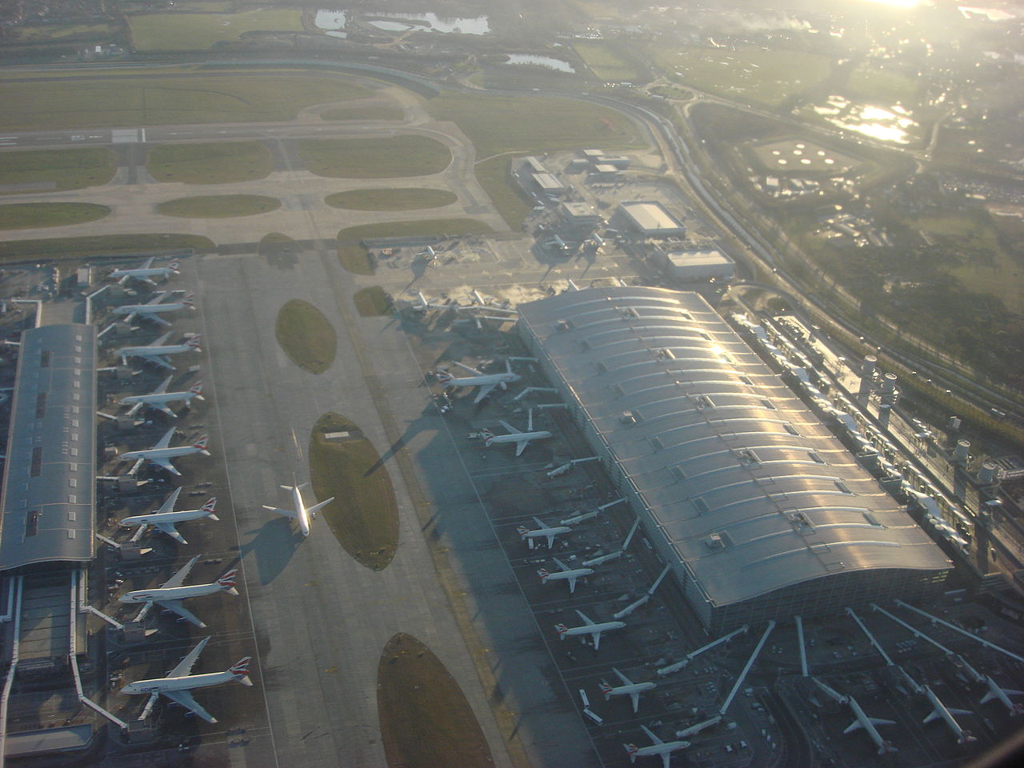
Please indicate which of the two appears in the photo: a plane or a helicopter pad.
plane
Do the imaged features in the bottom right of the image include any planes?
Yes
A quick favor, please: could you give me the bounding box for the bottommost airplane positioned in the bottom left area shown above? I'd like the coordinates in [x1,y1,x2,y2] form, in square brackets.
[121,634,251,718]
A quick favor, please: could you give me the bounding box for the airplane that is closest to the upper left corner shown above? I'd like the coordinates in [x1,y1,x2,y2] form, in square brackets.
[111,260,173,283]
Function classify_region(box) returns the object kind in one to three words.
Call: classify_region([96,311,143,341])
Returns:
jet bridge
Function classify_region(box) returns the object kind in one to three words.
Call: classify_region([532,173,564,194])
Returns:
building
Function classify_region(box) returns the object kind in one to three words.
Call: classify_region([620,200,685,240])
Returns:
hangar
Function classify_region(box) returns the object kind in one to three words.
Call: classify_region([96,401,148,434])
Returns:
jet bridge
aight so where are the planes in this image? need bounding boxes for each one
[116,329,198,366]
[121,634,251,718]
[545,230,576,252]
[540,559,593,593]
[118,426,211,474]
[121,486,222,542]
[444,361,520,400]
[114,290,191,323]
[120,552,239,621]
[481,421,552,456]
[406,292,442,311]
[560,279,586,292]
[519,518,570,549]
[111,260,173,283]
[555,612,624,651]
[843,699,899,757]
[623,728,689,768]
[262,477,331,537]
[465,291,498,307]
[597,670,655,713]
[119,374,206,415]
[922,689,978,746]
[984,679,1024,726]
